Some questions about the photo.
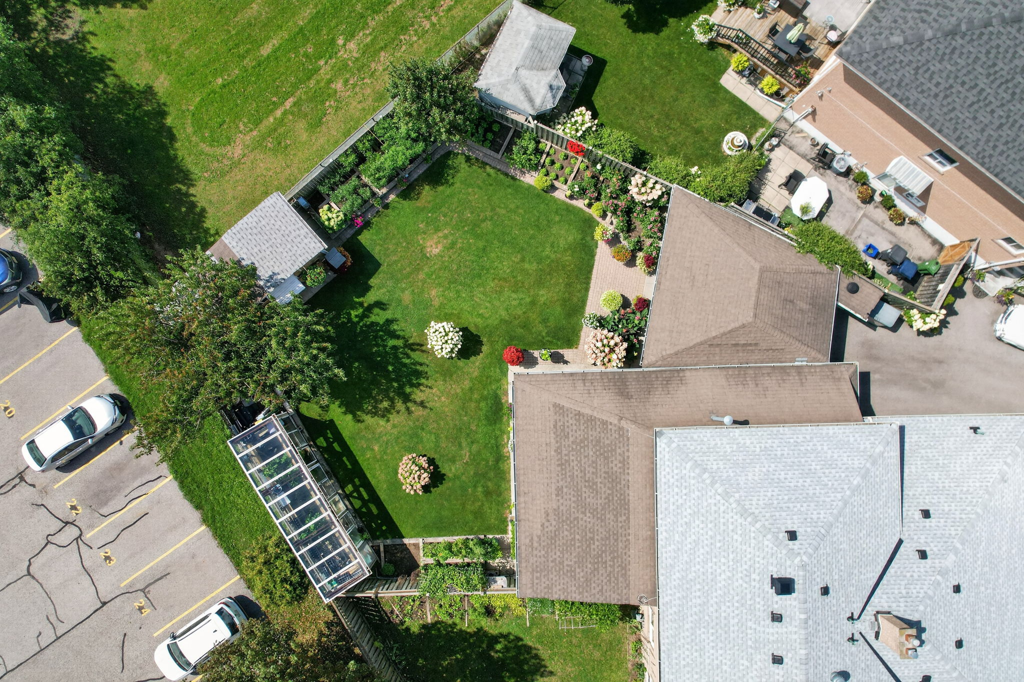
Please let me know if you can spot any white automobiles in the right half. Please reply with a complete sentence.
Yes, a white automobile shows up in the right half.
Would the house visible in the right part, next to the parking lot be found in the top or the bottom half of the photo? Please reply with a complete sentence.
The bottom half of the photo is where the house visible in the right part, next to the parking lot is.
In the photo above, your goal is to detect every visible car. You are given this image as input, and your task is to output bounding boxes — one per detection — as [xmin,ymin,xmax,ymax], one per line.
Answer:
[16,391,130,479]
[149,589,258,682]
[993,308,1024,359]
[0,252,30,307]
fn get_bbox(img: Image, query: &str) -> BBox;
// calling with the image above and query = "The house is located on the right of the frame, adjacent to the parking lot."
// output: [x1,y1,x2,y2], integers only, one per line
[509,361,1024,682]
